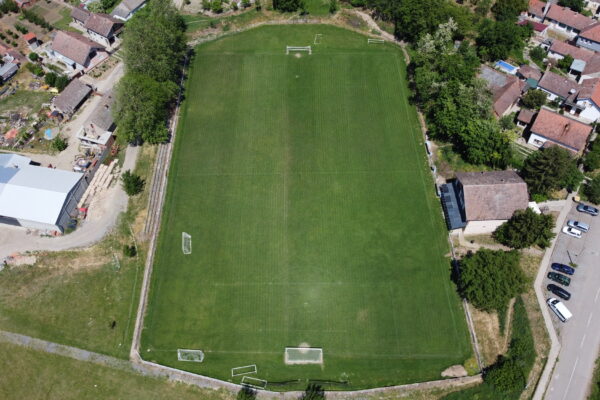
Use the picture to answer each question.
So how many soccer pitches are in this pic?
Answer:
1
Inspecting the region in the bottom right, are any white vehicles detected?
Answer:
Yes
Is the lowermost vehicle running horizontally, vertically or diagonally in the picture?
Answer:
diagonally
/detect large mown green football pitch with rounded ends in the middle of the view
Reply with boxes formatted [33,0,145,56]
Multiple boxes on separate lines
[139,23,480,391]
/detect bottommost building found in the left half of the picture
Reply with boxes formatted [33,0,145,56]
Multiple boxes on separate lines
[0,160,91,237]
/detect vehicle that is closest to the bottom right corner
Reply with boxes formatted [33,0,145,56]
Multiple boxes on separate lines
[545,299,575,323]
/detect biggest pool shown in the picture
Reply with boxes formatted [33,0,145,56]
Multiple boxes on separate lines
[495,60,520,76]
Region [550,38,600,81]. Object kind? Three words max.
house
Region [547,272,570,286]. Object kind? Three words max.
vehicle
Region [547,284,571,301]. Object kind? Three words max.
car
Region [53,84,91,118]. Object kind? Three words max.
shed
